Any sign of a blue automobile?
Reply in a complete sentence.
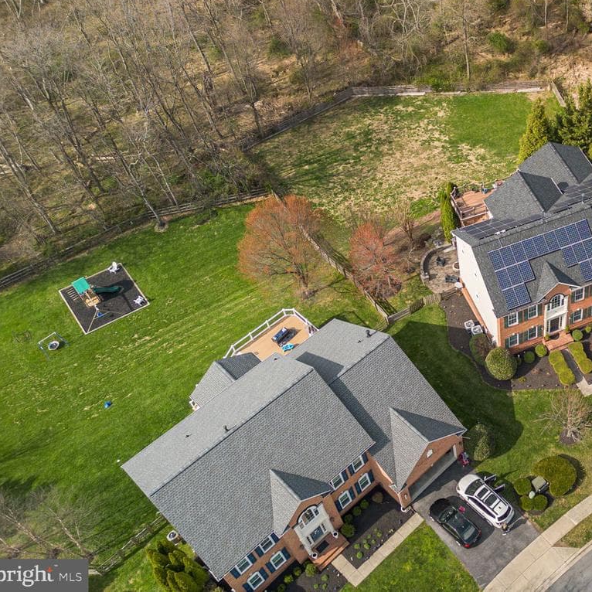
No, there is no blue automobile in the image.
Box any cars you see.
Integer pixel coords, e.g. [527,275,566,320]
[453,473,514,530]
[423,495,483,555]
